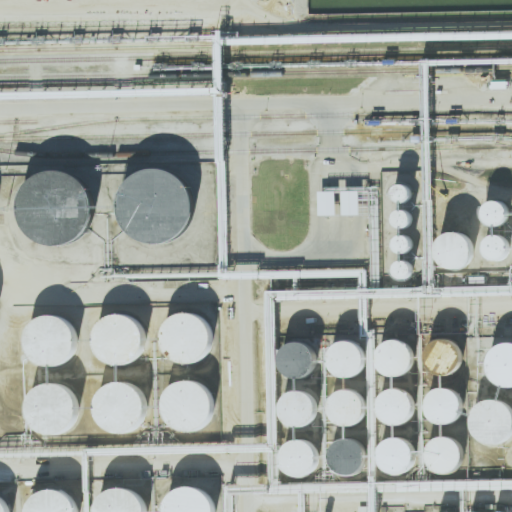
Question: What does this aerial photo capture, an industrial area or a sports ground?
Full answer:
It's an industrial area.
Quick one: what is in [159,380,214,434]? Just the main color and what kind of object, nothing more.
white storage tank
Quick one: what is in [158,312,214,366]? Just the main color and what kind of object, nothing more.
white storage tank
